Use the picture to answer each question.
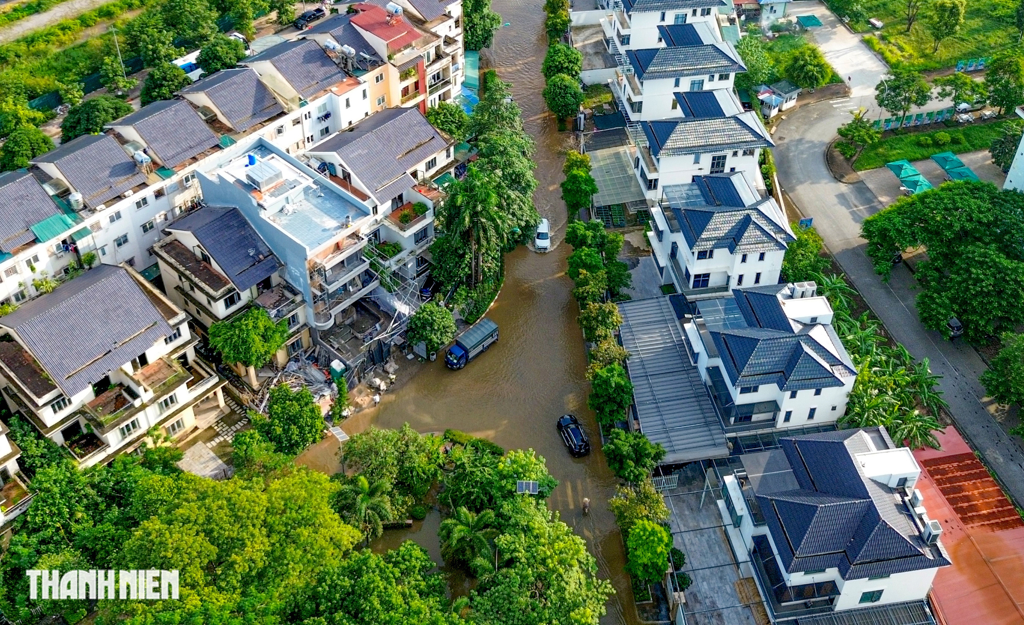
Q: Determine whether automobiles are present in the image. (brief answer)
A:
Yes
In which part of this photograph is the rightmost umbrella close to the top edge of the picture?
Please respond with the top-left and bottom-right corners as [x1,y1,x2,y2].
[793,15,826,36]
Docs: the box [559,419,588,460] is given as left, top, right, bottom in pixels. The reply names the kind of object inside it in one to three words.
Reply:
car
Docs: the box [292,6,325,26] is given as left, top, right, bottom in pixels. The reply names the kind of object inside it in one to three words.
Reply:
vehicle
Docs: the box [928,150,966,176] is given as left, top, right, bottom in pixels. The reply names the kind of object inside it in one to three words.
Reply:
umbrella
